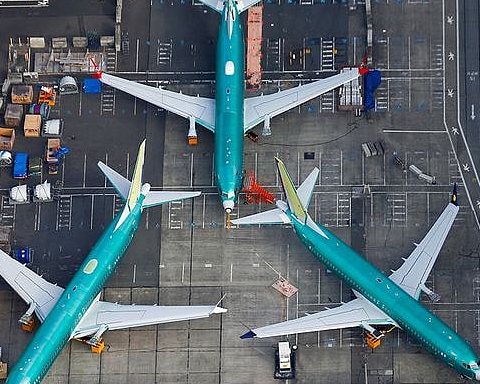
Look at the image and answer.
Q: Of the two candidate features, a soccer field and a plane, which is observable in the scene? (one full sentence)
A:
I can see a plane in this picture.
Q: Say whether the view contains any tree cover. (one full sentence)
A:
No, no tree cover is visible.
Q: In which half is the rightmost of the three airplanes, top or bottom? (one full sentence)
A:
The rightmost of the three airplanes sits in the bottom half of the picture.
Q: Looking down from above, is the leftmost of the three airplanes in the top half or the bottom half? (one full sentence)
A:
The leftmost of the three airplanes is in the bottom half of the image.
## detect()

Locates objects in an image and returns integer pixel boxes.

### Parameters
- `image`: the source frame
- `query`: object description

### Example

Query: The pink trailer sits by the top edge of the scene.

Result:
[245,7,262,89]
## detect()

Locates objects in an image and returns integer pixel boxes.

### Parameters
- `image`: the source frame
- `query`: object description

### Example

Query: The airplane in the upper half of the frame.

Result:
[92,0,368,213]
